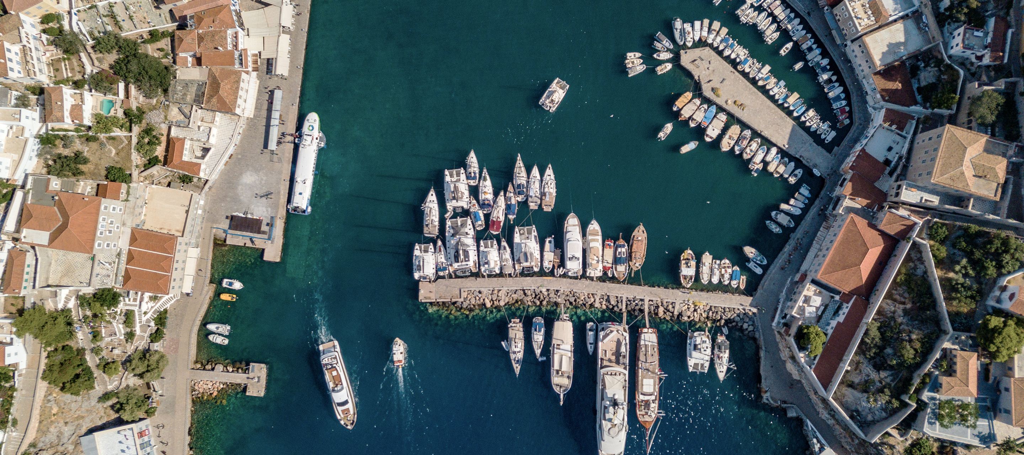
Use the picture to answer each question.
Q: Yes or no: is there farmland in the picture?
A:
No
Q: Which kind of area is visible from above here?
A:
residential area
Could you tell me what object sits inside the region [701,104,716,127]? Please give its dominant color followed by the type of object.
blue boat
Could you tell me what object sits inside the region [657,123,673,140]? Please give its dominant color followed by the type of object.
white boat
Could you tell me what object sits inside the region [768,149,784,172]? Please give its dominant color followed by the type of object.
white boat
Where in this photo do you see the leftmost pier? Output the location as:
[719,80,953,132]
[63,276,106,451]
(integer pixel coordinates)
[188,362,268,397]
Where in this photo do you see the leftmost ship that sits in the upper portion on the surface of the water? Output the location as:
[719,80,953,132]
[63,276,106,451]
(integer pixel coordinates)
[287,111,328,216]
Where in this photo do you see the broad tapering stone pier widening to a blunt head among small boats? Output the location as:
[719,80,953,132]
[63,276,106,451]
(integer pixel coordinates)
[680,47,836,179]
